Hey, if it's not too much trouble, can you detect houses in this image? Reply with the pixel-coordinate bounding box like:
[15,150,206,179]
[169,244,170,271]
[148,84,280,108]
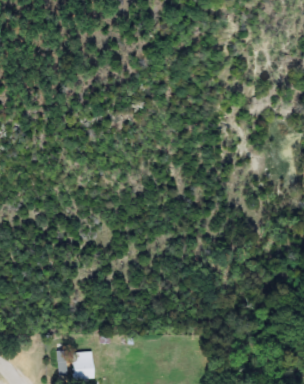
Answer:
[72,352,94,379]
[56,352,70,375]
